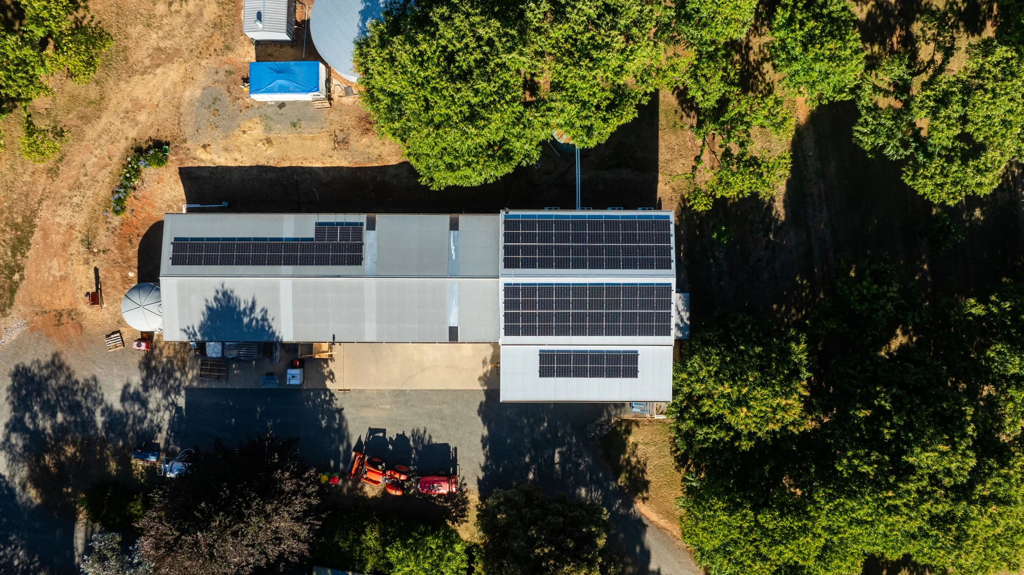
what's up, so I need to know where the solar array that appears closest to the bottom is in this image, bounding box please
[537,354,640,378]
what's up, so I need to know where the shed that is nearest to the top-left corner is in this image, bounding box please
[243,0,296,46]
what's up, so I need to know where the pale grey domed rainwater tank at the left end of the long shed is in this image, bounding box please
[122,287,162,327]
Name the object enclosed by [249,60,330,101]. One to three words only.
building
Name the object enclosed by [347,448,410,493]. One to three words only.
work vehicle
